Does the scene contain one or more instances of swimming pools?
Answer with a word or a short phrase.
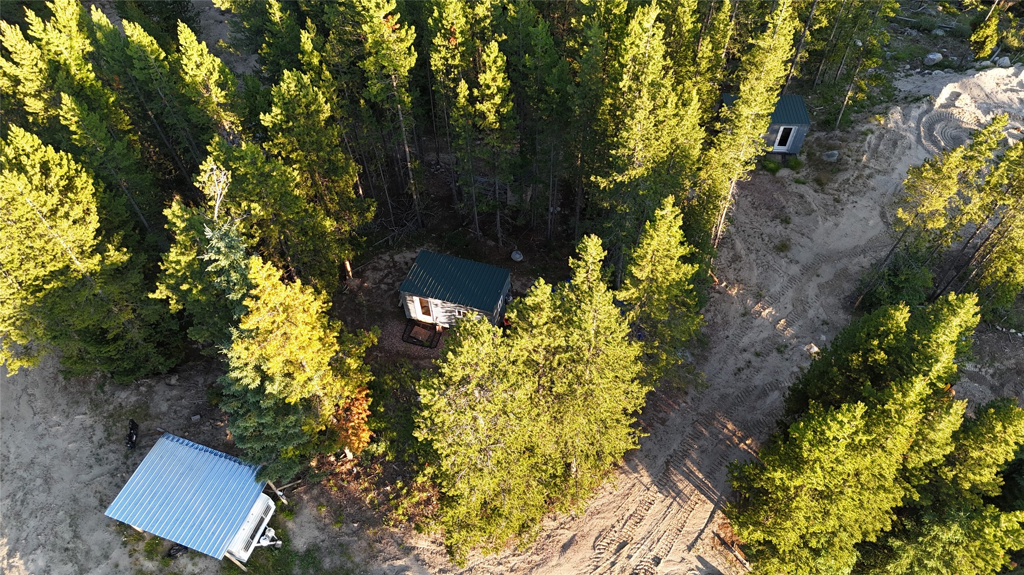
No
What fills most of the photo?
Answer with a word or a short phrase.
trees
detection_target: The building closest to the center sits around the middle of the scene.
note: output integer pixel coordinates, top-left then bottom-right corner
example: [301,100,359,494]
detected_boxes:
[398,249,512,339]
